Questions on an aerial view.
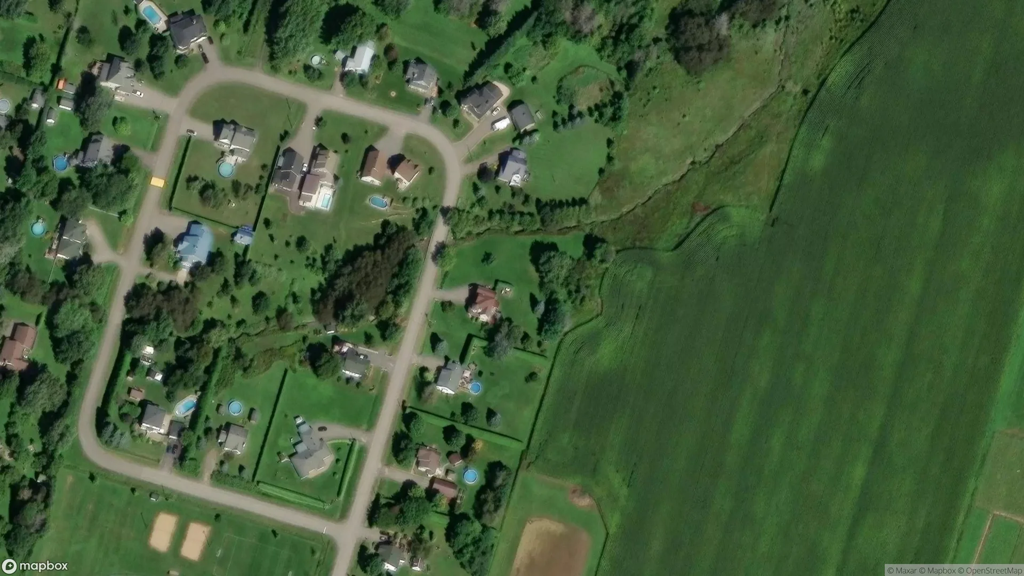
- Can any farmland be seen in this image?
Yes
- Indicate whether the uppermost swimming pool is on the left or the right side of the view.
left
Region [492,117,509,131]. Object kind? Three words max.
camper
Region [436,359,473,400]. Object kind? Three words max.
house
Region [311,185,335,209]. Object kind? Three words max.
swimming pool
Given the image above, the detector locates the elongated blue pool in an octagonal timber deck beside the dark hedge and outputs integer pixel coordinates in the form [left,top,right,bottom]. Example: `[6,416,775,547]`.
[175,396,197,417]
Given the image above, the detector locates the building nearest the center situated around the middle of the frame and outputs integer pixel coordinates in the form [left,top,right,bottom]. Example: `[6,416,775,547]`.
[467,286,500,330]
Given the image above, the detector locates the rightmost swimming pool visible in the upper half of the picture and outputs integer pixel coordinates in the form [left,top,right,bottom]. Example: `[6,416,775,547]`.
[368,195,388,210]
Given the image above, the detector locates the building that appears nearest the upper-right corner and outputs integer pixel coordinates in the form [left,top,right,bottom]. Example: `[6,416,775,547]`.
[509,102,535,132]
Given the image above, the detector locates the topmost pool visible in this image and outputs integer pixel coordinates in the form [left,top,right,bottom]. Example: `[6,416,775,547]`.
[138,0,168,33]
